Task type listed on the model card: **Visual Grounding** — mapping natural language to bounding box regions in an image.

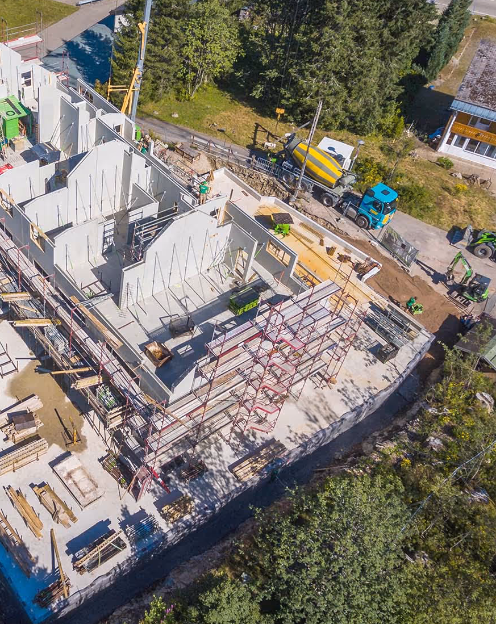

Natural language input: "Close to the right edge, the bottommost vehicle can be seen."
[438,246,494,309]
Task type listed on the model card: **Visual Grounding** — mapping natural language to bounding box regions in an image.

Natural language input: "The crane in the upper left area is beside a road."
[83,0,153,154]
